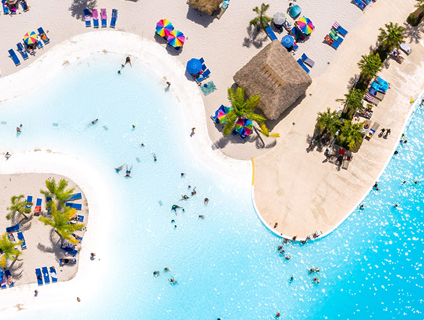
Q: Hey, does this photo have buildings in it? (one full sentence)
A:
Yes, a building appears in the view.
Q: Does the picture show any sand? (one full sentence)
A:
Yes, some sand is visible.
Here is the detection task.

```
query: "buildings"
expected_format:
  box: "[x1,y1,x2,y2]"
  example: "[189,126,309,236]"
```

[232,37,311,123]
[187,0,224,17]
